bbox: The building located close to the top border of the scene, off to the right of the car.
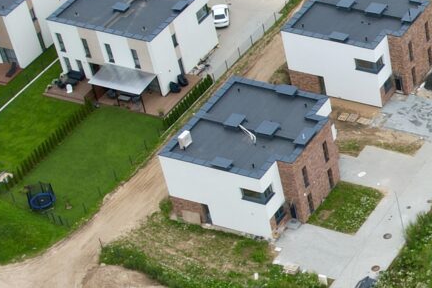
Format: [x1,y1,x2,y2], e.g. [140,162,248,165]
[282,0,432,107]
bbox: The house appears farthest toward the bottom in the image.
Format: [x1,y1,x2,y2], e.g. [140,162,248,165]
[158,77,339,240]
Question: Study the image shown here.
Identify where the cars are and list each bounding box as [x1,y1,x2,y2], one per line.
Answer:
[211,6,230,31]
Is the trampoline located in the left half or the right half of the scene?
left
